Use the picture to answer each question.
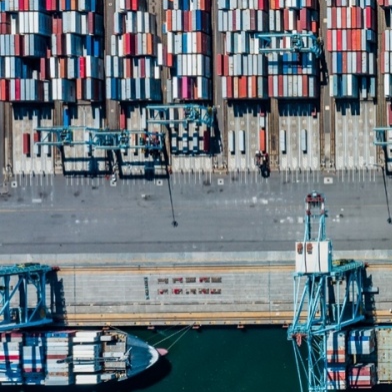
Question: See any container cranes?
Yes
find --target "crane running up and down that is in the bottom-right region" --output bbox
[286,193,376,392]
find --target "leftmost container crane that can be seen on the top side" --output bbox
[30,125,108,152]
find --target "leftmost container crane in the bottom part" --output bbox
[0,260,69,346]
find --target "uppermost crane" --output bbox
[257,33,325,64]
